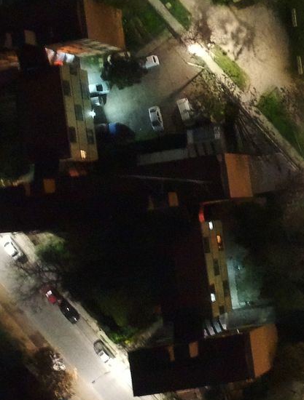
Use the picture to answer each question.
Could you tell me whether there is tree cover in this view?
Yes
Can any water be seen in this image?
No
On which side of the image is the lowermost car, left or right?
left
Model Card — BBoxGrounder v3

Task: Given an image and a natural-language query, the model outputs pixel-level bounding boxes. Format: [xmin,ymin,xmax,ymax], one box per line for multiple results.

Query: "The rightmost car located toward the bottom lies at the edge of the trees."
[88,338,114,365]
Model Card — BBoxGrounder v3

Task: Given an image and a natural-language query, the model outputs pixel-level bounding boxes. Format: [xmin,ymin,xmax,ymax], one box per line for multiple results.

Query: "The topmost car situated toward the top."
[135,53,163,69]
